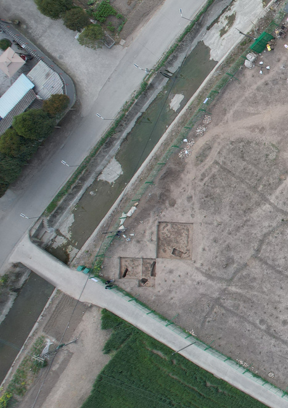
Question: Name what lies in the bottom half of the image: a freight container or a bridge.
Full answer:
Visible in the bottom half of the image is a bridge.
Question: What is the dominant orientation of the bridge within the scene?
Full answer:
The bridge runs on a diagonal in the image.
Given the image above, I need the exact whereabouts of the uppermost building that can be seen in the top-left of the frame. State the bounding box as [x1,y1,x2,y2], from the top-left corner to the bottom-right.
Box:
[0,47,37,78]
